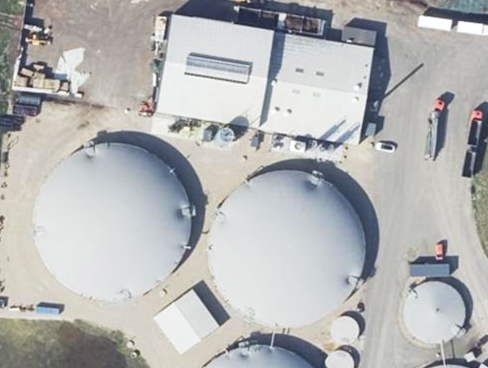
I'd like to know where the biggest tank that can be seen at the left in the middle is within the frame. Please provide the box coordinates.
[32,139,198,306]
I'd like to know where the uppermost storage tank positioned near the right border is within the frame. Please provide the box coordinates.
[403,281,469,344]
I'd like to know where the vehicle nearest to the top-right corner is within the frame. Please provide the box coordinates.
[457,22,488,37]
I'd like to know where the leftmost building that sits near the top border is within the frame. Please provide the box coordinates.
[155,14,274,127]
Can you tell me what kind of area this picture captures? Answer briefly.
industrial area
